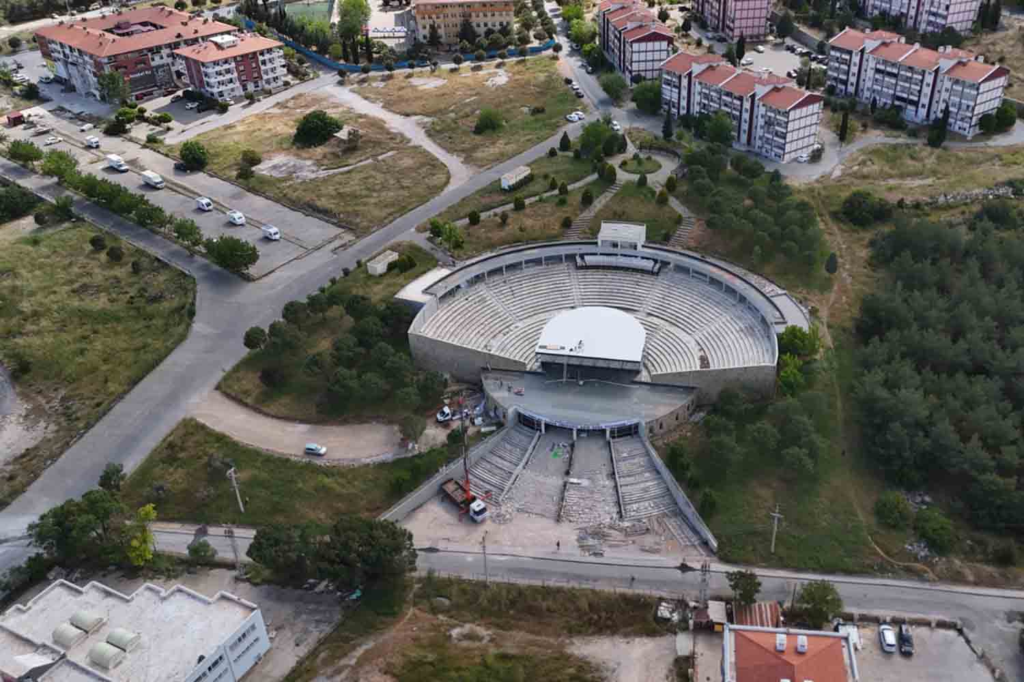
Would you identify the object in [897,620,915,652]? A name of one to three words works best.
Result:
car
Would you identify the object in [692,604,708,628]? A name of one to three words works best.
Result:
shed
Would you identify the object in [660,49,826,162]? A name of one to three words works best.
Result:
building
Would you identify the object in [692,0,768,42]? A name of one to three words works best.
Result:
building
